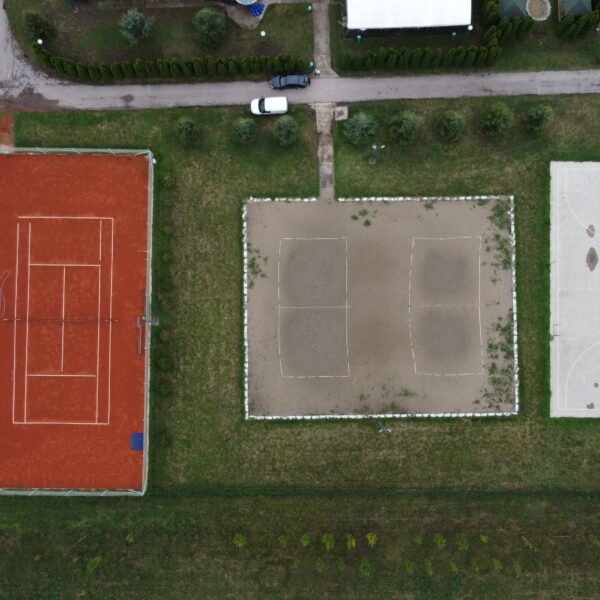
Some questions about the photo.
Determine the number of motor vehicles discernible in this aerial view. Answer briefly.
2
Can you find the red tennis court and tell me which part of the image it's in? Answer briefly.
left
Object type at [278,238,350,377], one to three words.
sports court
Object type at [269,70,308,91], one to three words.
car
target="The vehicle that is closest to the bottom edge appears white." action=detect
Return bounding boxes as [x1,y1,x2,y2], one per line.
[252,94,288,115]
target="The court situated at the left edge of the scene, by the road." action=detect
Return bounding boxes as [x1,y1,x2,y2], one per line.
[0,153,152,490]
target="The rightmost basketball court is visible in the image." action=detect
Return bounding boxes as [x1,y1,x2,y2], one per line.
[550,162,600,418]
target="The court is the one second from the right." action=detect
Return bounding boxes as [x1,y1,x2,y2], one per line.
[409,236,483,376]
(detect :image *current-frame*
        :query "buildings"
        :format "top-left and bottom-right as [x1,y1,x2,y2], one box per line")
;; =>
[557,0,592,23]
[495,0,527,23]
[342,0,472,38]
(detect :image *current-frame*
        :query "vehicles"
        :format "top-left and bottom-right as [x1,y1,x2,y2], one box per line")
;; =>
[269,70,308,91]
[252,94,288,115]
